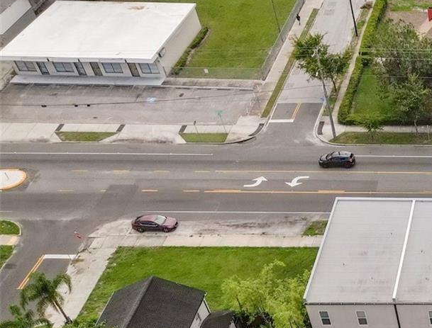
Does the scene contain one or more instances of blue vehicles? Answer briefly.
No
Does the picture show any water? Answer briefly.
No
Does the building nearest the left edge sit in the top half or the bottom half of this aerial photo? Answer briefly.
top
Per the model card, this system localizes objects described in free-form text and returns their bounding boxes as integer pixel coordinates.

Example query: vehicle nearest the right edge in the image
[318,151,356,167]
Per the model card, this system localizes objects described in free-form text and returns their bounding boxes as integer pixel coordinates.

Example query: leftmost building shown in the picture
[0,0,41,55]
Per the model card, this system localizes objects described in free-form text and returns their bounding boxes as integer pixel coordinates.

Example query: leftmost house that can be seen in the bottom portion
[96,274,210,328]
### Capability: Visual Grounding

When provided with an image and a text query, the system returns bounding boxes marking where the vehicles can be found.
[318,151,356,167]
[130,213,179,232]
